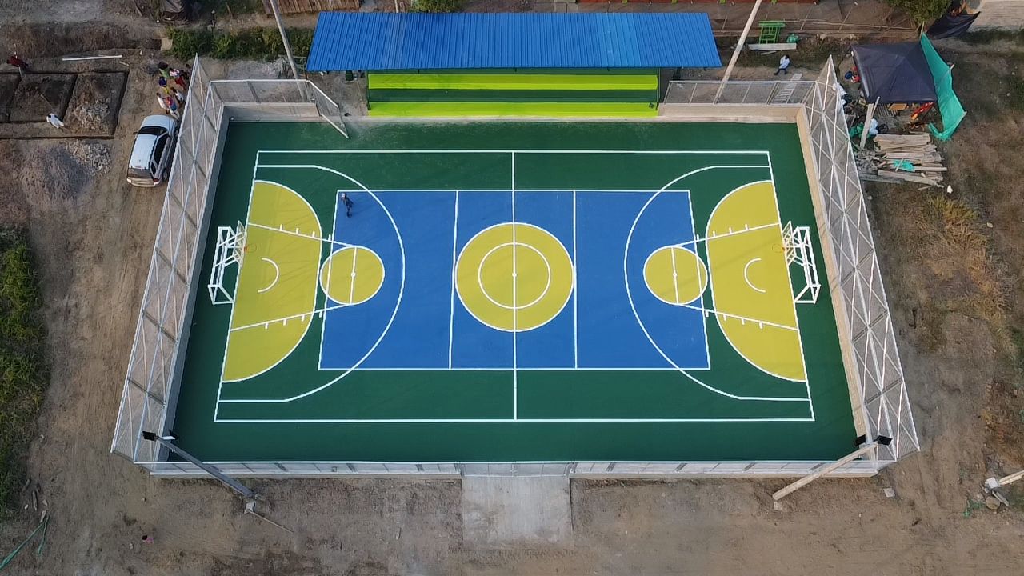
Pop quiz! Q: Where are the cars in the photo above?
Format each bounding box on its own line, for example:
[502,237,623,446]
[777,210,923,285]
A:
[125,115,175,185]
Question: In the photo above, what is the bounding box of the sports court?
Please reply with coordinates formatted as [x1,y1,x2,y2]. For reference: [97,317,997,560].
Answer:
[165,116,863,467]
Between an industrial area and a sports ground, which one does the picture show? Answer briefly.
sports ground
